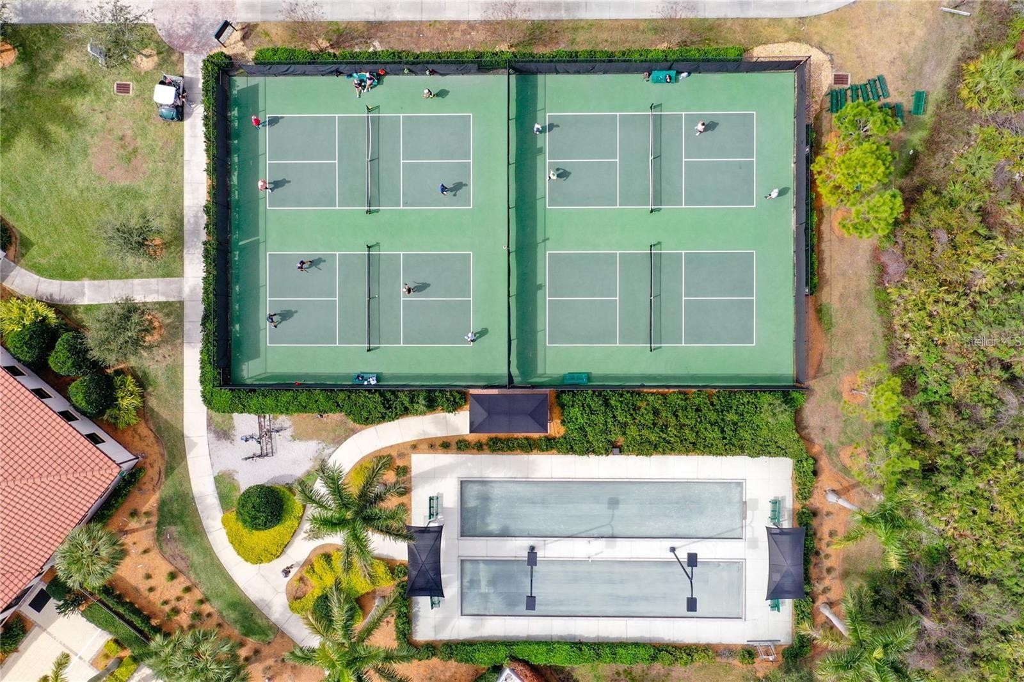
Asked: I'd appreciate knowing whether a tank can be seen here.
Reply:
No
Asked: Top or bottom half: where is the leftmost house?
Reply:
bottom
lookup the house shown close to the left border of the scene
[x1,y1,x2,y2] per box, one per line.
[0,341,139,626]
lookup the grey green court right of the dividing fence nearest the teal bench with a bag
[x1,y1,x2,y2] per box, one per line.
[547,112,756,208]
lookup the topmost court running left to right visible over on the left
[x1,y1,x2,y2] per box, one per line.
[267,113,473,209]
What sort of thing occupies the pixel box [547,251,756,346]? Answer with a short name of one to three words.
sports court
